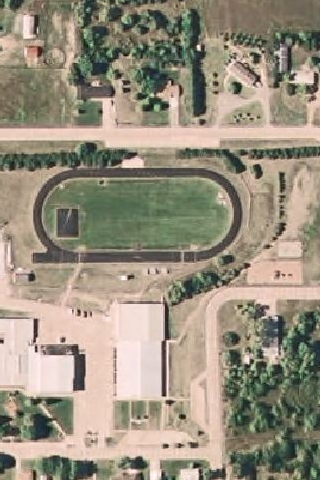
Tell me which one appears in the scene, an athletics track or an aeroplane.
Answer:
athletics track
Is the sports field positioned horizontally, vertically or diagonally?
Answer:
horizontally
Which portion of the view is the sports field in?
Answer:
center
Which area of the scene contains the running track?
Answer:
center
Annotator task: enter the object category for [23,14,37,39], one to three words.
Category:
barn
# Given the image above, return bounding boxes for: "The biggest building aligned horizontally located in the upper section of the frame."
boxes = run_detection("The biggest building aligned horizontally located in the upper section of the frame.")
[78,84,114,98]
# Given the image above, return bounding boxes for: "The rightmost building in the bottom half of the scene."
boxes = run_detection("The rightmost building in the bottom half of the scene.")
[264,316,279,356]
